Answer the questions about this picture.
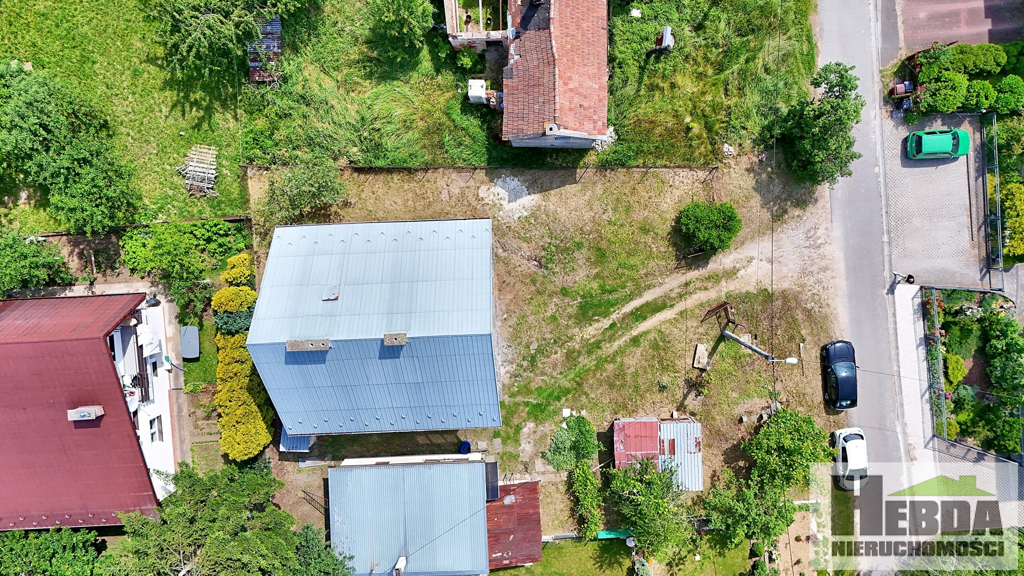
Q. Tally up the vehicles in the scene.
three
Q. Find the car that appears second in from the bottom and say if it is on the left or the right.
right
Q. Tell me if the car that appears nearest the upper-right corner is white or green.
green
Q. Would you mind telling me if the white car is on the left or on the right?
right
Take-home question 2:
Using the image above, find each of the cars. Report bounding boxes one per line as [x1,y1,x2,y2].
[833,427,871,490]
[905,126,972,160]
[819,341,857,410]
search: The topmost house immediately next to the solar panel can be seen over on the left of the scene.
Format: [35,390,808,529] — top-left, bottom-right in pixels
[245,215,501,438]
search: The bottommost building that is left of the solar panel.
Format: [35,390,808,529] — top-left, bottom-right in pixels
[327,455,490,576]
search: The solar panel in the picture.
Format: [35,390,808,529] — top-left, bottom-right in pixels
[485,450,501,500]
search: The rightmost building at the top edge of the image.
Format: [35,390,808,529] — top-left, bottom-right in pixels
[446,0,609,149]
